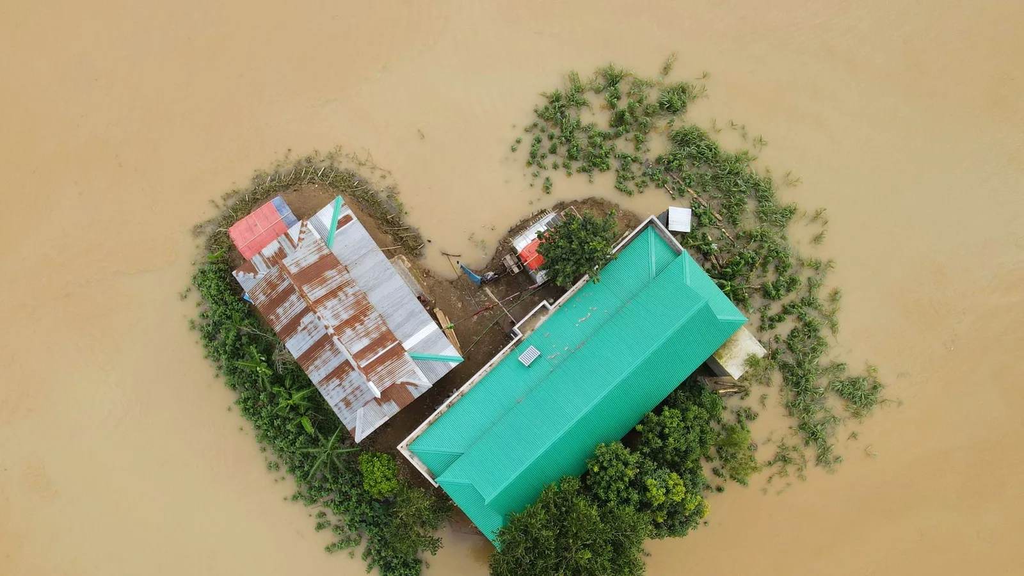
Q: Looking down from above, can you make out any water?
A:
Yes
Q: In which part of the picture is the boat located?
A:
center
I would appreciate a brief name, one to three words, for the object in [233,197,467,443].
house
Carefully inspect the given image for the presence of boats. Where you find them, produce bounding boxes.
[458,260,481,285]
